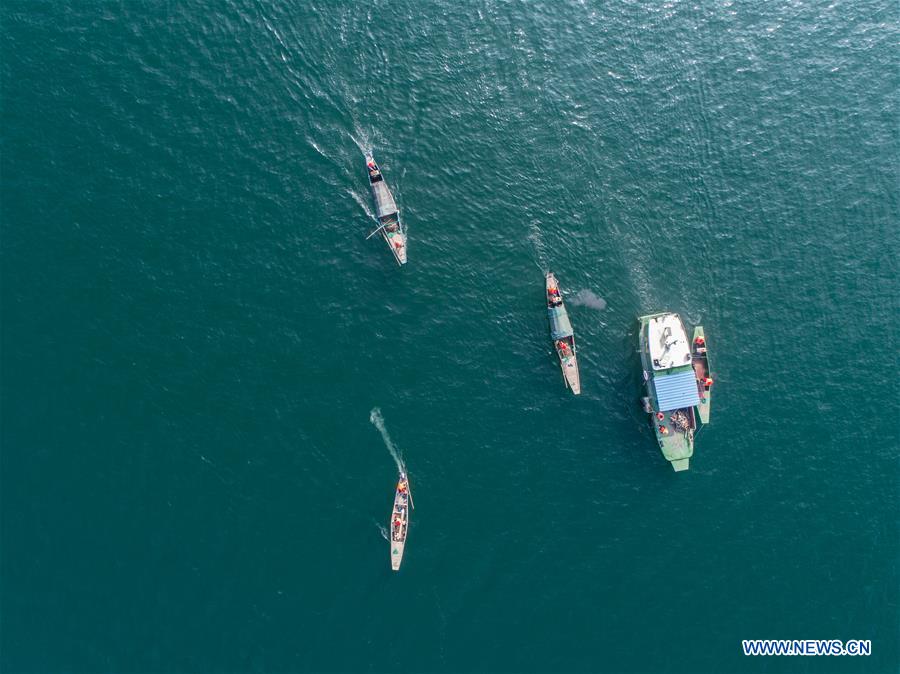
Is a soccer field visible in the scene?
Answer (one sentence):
No, no soccer field is visible in the view.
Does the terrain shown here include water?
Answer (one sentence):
Yes, the picture does contain water.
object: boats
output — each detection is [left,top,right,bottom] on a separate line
[546,263,580,395]
[365,145,406,265]
[693,326,712,424]
[638,312,700,472]
[390,464,409,572]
